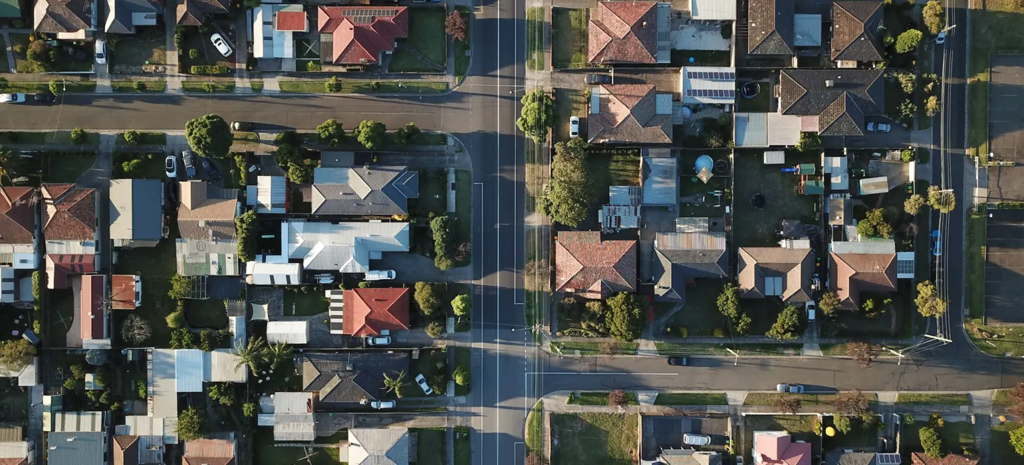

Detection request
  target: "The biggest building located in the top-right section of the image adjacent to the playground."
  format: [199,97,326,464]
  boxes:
[731,69,885,147]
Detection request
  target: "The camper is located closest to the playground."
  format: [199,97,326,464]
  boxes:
[850,177,887,193]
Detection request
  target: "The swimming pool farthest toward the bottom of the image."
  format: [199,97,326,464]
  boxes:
[694,154,713,172]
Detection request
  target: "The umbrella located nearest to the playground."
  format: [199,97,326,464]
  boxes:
[696,167,714,185]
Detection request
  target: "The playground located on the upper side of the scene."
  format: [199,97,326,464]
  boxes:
[781,164,824,194]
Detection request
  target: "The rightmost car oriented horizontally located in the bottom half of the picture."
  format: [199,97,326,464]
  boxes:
[775,382,804,394]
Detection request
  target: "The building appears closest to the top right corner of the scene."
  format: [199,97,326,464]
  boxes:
[828,0,893,68]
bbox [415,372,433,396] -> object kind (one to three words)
car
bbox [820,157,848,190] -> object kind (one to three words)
shed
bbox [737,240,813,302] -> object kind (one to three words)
house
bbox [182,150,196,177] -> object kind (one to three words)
vehicle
